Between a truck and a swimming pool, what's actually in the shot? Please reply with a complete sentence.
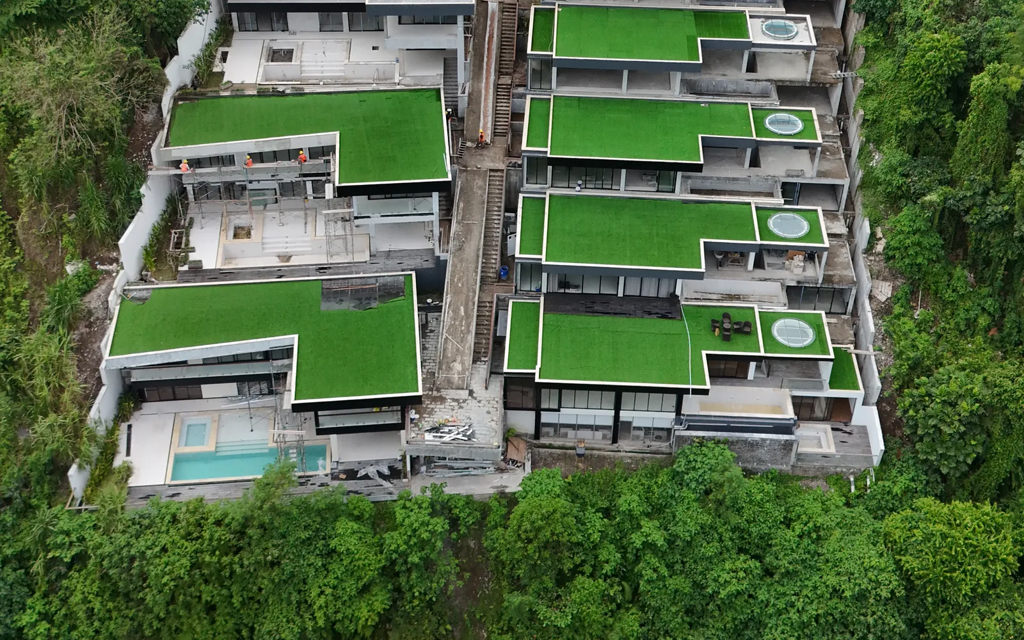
There is a swimming pool in the scene.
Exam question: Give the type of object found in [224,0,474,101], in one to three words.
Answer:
house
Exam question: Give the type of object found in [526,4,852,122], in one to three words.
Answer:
house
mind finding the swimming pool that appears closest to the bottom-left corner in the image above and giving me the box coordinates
[168,409,335,486]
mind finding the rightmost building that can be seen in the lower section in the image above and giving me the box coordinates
[503,296,881,488]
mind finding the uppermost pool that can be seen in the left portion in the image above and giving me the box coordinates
[260,40,399,85]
